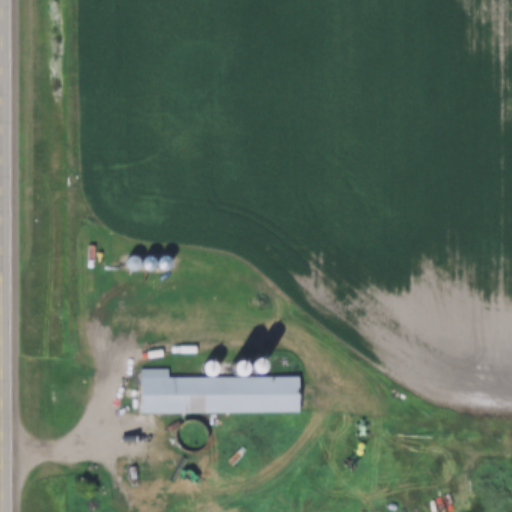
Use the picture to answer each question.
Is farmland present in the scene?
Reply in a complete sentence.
Yes, the picture does contain farmland.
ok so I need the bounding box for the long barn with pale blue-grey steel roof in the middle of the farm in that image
[140,368,302,418]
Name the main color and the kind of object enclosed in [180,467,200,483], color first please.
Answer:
green work vehicle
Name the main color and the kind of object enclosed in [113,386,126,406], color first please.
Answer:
white vehicle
